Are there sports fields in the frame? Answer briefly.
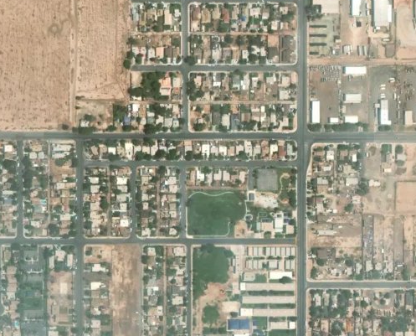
Yes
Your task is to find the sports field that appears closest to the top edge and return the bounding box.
[184,191,251,239]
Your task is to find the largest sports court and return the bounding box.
[257,169,277,191]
